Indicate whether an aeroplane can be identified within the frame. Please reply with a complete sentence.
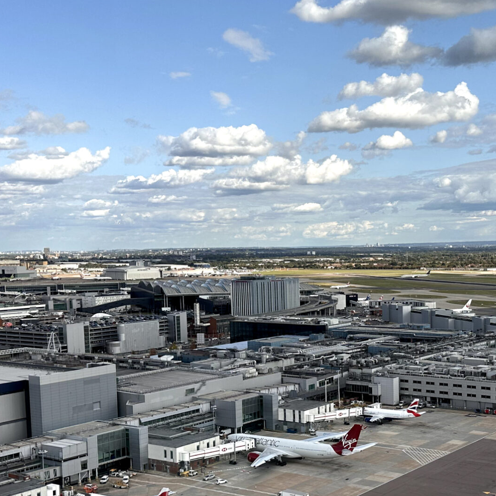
Yes, the frame does contain an aeroplane.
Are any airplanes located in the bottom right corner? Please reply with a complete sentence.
Yes, looking in the bottom right corner, one can make out an airplane.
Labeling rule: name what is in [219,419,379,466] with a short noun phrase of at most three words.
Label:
airplane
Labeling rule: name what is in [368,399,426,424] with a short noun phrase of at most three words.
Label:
airplane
